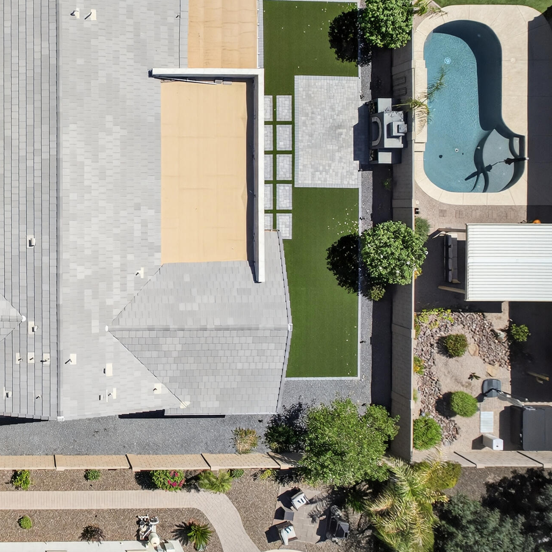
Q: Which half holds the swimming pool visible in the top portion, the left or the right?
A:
right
